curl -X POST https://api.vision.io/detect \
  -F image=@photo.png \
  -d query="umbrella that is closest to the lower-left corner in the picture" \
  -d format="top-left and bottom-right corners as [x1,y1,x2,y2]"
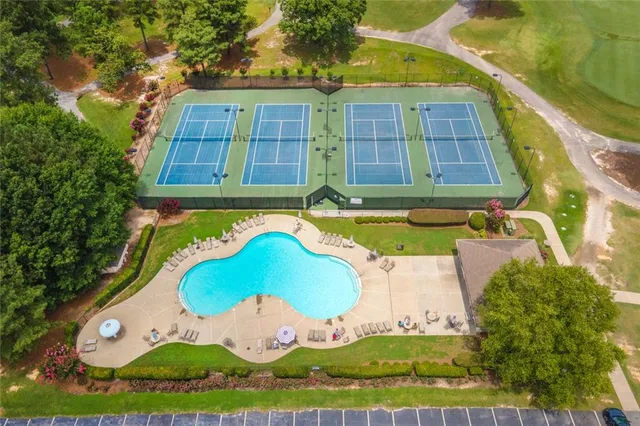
[99,319,122,340]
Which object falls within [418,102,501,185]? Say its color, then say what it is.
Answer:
blue tennis court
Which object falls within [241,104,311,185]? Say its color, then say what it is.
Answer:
blue tennis court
